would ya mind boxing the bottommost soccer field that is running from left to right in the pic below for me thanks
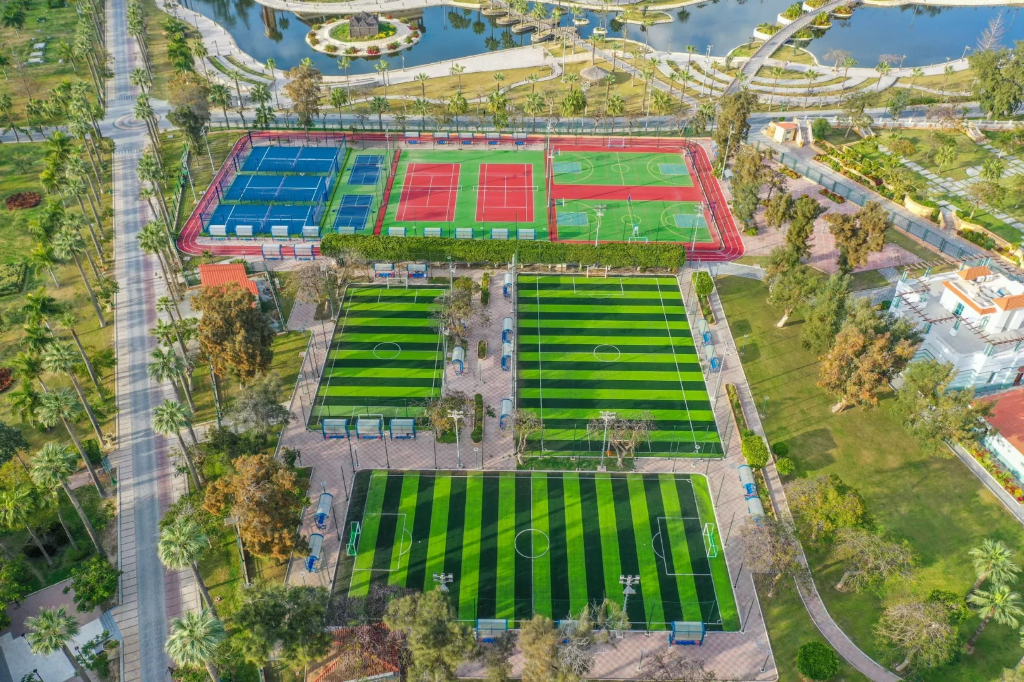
[322,468,745,635]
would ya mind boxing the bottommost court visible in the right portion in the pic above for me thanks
[555,199,714,242]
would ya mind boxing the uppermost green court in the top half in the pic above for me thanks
[551,151,694,186]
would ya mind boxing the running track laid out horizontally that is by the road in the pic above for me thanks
[173,131,745,262]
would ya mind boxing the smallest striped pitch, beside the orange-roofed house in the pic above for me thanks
[305,282,454,434]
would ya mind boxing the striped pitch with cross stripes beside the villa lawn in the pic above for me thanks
[515,272,726,459]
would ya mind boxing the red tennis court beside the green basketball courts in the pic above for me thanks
[471,163,540,222]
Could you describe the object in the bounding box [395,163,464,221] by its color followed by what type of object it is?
red tennis court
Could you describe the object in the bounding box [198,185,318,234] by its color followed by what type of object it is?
blue sports court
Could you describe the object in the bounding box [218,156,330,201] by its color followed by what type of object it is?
blue sports court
